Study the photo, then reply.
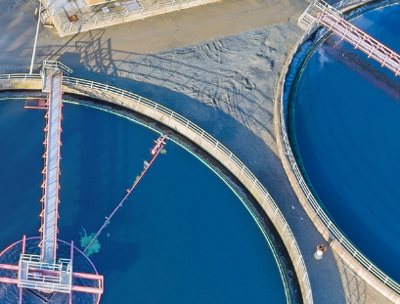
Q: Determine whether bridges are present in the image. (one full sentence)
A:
Yes, a bridge can be made out from above.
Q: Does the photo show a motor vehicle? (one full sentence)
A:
No, there appears to be no motor vehicle in this shot.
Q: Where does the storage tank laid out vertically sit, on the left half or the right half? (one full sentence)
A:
The storage tank laid out vertically appears in the right half of the scene.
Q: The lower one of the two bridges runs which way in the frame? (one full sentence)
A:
The lower one of the two bridges has been laid out up and down relative to the frame.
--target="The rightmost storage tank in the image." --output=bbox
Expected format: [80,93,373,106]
[274,0,400,304]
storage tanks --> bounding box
[274,0,400,304]
[0,56,314,304]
